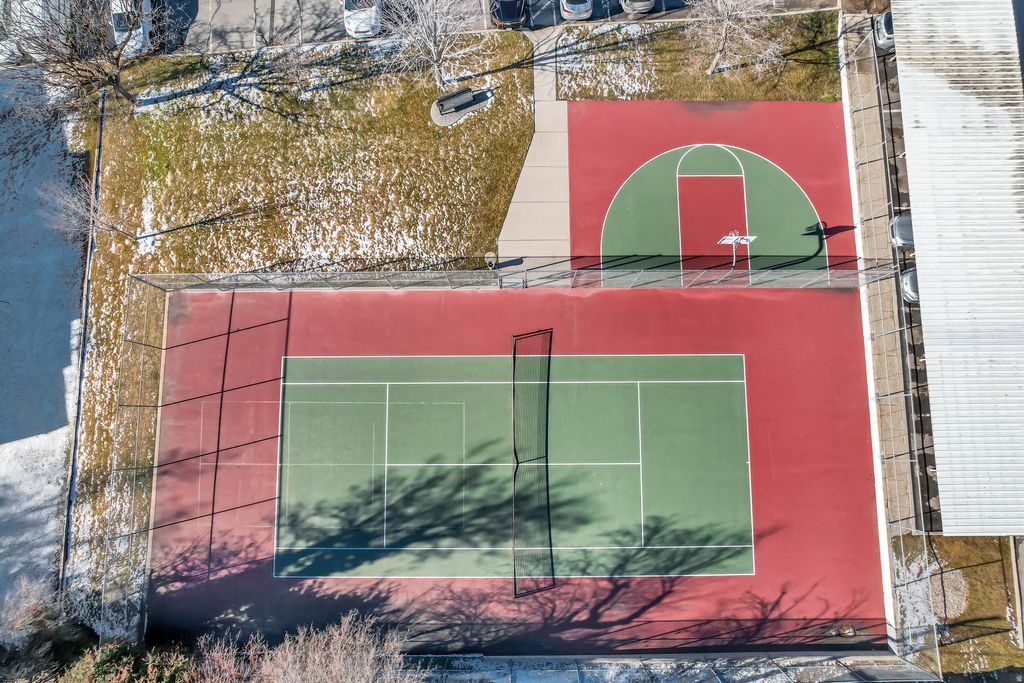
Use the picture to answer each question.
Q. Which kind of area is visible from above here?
sports ground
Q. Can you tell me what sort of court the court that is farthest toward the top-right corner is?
basketball court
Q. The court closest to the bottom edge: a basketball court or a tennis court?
tennis court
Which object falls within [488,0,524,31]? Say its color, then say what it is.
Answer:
black car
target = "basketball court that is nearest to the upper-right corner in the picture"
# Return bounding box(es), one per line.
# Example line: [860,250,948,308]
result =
[568,99,858,286]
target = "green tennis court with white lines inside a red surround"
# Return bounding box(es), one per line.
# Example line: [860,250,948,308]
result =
[146,285,889,652]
